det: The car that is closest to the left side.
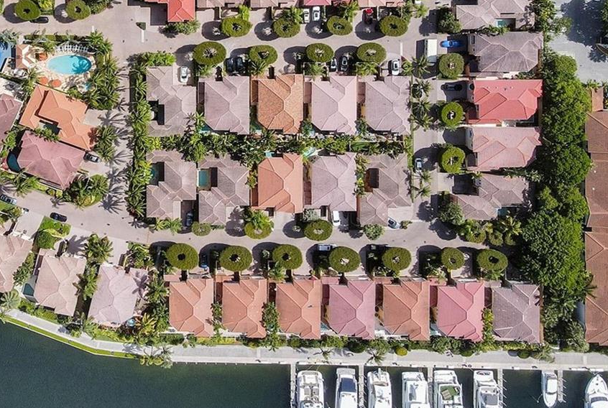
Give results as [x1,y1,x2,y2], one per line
[0,193,18,207]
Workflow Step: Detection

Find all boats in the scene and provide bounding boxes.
[472,369,499,408]
[366,366,391,408]
[335,366,359,408]
[298,364,324,408]
[581,371,608,408]
[433,368,466,408]
[402,366,433,408]
[537,370,559,408]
